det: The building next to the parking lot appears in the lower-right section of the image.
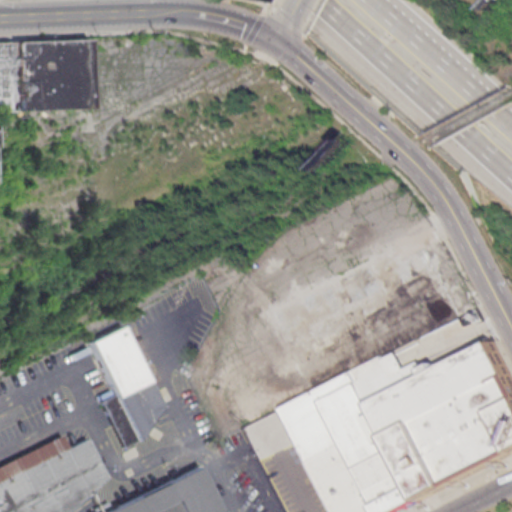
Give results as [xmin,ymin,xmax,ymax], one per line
[244,318,512,512]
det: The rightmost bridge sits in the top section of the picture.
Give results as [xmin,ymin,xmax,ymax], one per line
[415,86,512,150]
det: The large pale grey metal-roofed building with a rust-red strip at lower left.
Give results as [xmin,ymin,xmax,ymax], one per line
[0,436,116,512]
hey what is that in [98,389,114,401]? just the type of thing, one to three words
vehicle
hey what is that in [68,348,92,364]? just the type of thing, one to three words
vehicle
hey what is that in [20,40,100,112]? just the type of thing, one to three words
building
